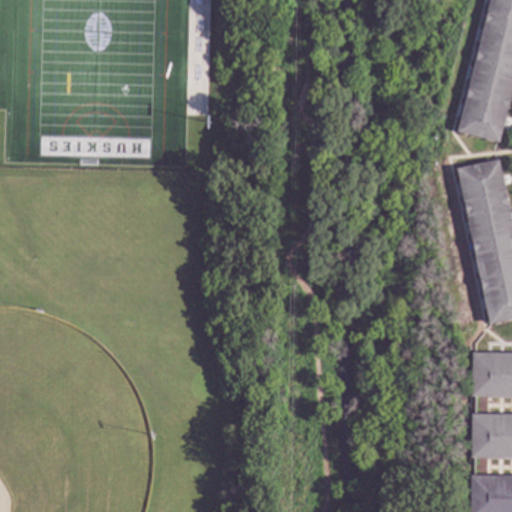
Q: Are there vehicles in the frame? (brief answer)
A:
No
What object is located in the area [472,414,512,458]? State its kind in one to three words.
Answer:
building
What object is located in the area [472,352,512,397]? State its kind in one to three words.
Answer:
building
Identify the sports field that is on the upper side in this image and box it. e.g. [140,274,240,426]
[0,0,189,166]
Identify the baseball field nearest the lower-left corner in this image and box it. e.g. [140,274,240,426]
[0,304,154,512]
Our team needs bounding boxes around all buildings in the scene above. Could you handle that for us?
[458,0,512,142]
[458,159,512,326]
[472,352,512,397]
[472,474,512,512]
[472,414,512,458]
